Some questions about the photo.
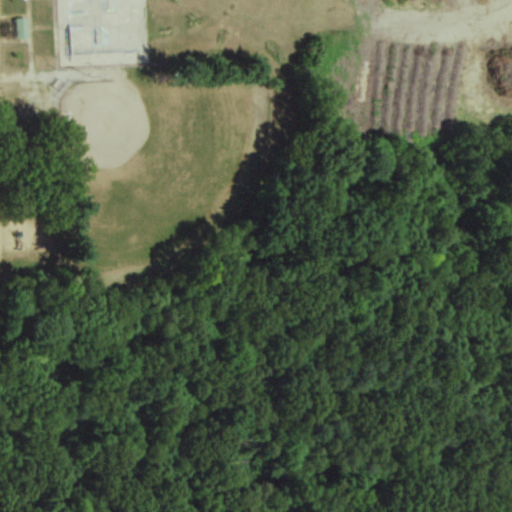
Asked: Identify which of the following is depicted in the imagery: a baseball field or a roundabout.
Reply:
baseball field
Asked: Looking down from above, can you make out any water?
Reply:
No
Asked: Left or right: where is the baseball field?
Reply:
left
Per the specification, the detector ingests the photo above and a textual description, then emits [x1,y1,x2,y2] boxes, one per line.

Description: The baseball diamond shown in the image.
[60,80,292,296]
